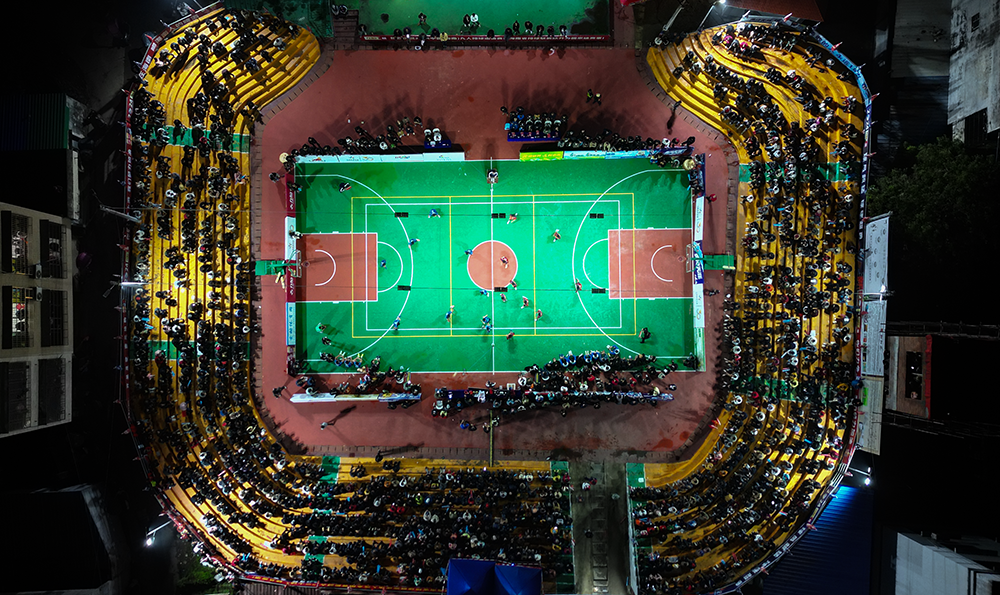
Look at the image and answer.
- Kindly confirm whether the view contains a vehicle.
No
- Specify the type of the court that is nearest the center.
basketball court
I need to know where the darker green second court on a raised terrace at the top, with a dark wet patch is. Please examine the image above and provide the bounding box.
[359,0,612,33]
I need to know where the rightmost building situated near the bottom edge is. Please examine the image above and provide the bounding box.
[896,532,1000,595]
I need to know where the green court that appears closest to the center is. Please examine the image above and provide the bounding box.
[294,157,696,374]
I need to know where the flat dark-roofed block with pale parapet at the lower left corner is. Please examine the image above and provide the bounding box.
[0,474,138,595]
